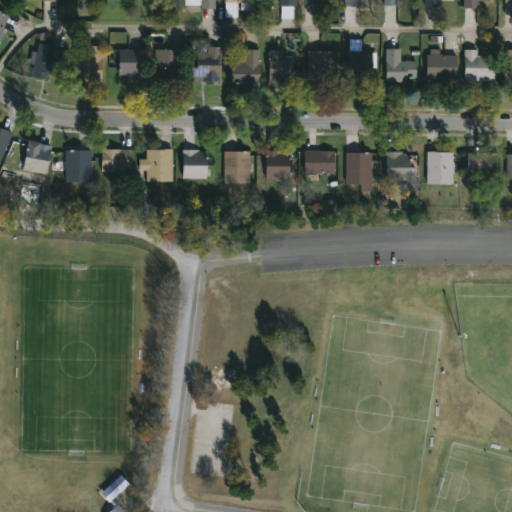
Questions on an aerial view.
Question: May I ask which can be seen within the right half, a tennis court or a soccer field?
soccer field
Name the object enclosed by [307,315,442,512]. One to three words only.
soccer field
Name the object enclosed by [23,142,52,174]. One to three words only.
house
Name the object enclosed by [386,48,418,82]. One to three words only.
house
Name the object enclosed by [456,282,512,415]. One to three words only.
sports field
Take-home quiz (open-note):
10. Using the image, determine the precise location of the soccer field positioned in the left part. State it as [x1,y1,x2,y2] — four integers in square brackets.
[19,264,134,455]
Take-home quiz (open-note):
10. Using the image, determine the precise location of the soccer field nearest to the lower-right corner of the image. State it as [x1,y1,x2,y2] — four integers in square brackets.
[434,442,512,512]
